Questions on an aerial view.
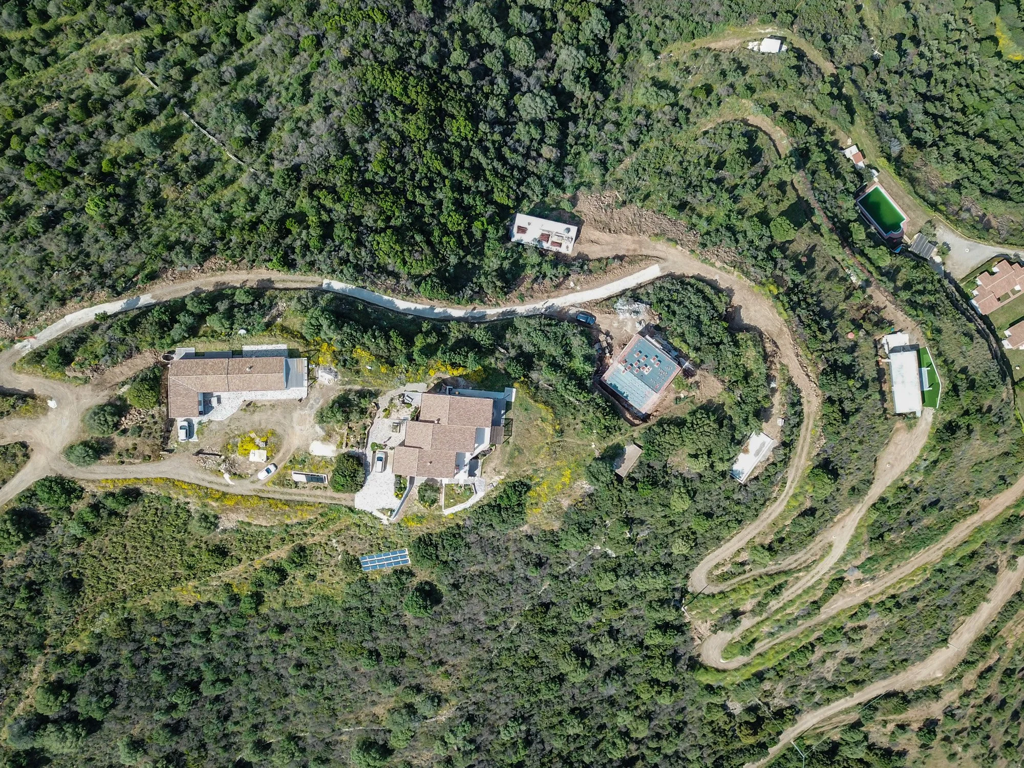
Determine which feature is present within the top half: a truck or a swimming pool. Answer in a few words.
swimming pool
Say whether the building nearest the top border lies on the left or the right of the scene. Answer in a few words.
right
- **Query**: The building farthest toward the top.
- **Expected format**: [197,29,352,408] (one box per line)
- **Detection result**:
[756,38,781,59]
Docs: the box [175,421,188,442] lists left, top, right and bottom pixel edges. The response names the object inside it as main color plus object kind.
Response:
white vehicle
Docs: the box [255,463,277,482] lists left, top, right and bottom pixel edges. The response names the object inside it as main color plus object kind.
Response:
white car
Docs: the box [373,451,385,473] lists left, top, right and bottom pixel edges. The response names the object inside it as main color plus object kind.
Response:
white vehicle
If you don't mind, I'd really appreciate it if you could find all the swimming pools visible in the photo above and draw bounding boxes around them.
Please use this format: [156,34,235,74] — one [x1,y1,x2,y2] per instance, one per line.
[853,180,911,243]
